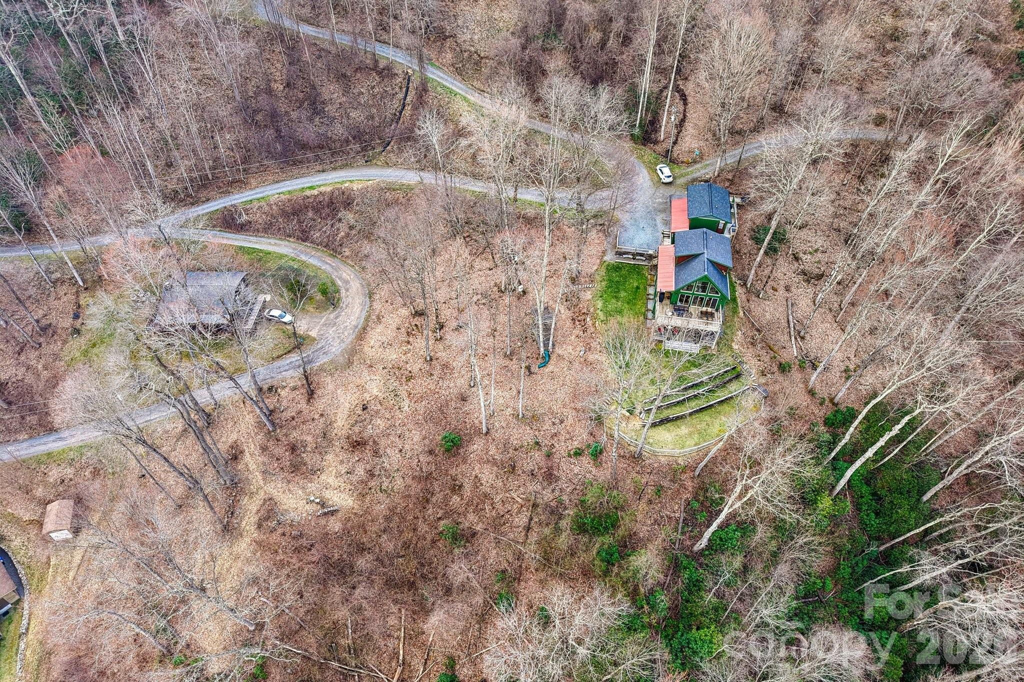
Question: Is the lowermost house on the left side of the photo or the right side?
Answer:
left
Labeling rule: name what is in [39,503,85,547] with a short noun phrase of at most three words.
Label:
shed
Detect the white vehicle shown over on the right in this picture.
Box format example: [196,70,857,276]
[658,166,674,181]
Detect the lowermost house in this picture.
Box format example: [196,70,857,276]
[0,561,33,630]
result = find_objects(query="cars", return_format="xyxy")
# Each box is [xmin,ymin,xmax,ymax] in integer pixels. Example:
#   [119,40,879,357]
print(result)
[263,310,293,326]
[658,166,674,181]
